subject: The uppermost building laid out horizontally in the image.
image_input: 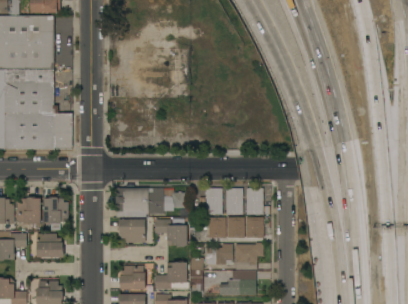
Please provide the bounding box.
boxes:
[30,0,58,14]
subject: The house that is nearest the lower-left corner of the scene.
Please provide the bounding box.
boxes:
[0,278,28,304]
